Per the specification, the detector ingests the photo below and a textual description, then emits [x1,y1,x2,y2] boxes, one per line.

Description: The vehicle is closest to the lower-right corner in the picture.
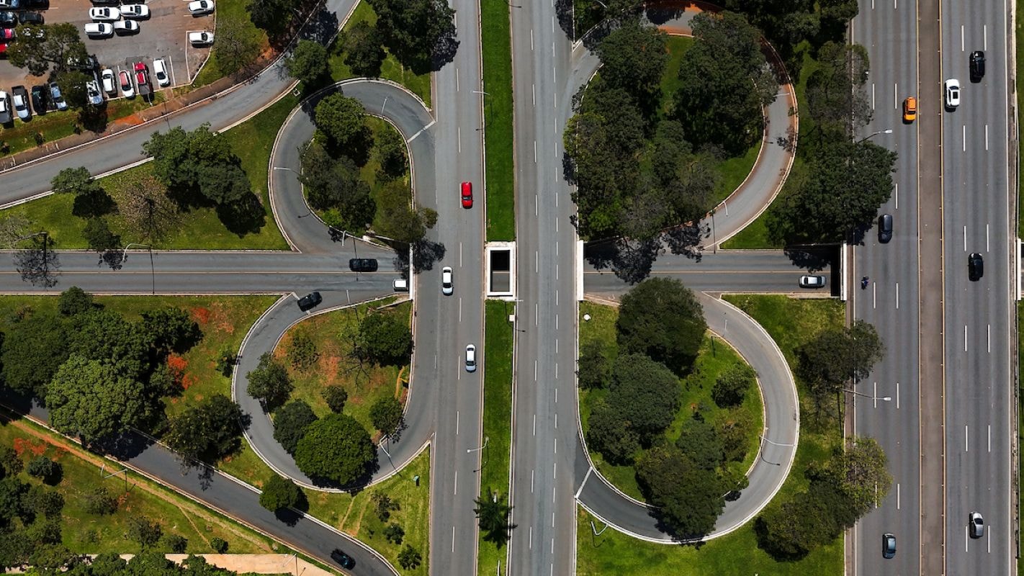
[968,511,983,538]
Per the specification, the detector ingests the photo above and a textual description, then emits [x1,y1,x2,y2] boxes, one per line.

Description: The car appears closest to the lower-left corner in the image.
[329,547,357,570]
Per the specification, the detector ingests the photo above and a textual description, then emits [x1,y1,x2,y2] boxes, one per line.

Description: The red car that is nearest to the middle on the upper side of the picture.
[460,182,473,208]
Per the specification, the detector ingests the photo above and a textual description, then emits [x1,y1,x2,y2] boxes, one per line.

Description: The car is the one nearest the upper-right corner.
[968,51,986,81]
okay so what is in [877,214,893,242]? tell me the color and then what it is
black car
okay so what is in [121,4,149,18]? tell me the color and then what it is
white car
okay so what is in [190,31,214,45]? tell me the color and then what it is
white car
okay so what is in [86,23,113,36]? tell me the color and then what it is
white vehicle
